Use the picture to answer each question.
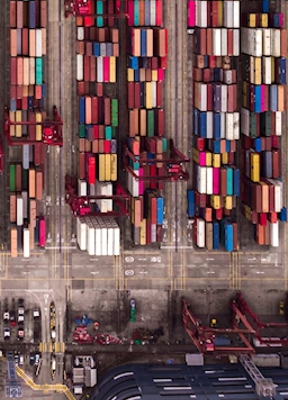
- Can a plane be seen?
No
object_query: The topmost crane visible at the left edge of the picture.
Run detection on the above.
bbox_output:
[4,109,63,145]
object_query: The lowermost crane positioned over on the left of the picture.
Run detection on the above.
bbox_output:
[67,178,131,218]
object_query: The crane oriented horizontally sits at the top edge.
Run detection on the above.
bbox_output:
[67,0,131,20]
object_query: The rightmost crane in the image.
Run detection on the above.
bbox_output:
[237,291,288,343]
